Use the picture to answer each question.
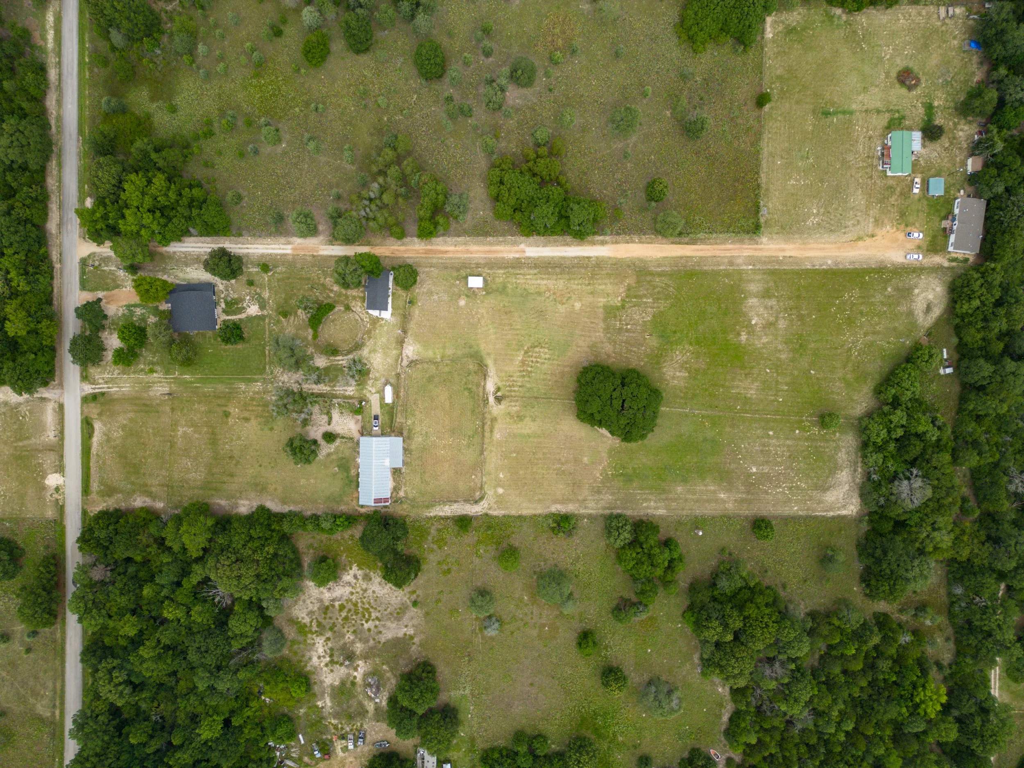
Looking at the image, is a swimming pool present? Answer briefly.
No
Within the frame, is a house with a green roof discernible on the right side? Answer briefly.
Yes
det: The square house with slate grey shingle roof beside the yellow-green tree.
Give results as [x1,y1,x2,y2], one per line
[165,283,219,331]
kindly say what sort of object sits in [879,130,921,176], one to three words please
house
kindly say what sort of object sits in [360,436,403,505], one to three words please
barn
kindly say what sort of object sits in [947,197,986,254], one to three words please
house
